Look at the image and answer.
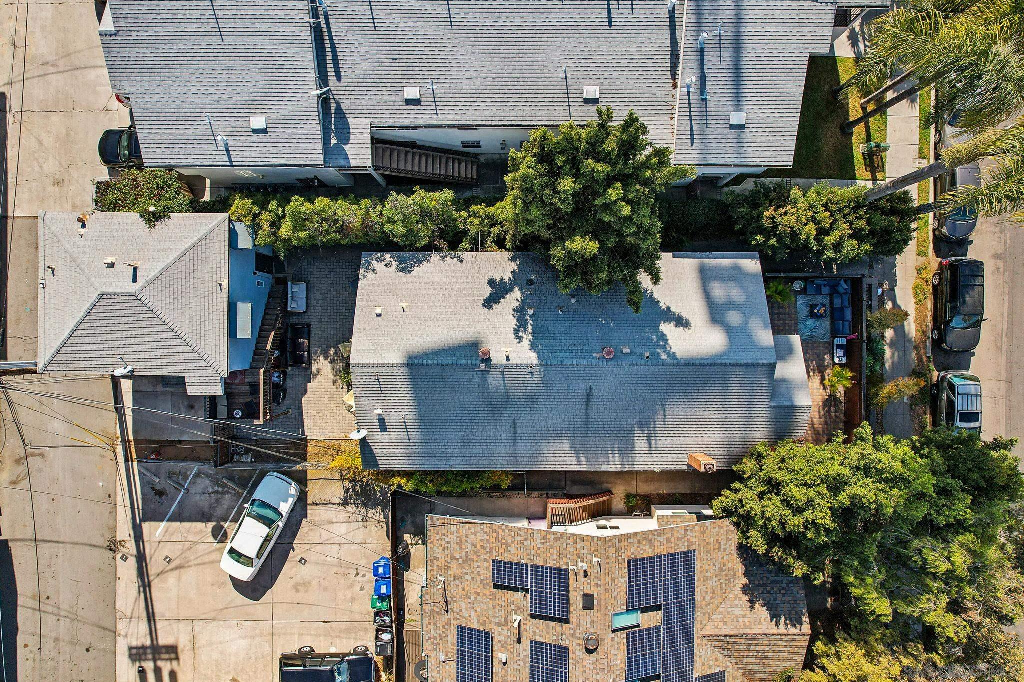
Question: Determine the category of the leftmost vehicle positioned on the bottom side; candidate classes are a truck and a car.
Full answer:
In the photo, the leftmost vehicle positioned on the bottom side shows up as a car.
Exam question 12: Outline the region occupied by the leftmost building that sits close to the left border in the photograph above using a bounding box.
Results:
[36,210,268,396]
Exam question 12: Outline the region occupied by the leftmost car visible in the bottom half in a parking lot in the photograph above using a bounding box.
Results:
[222,472,300,580]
